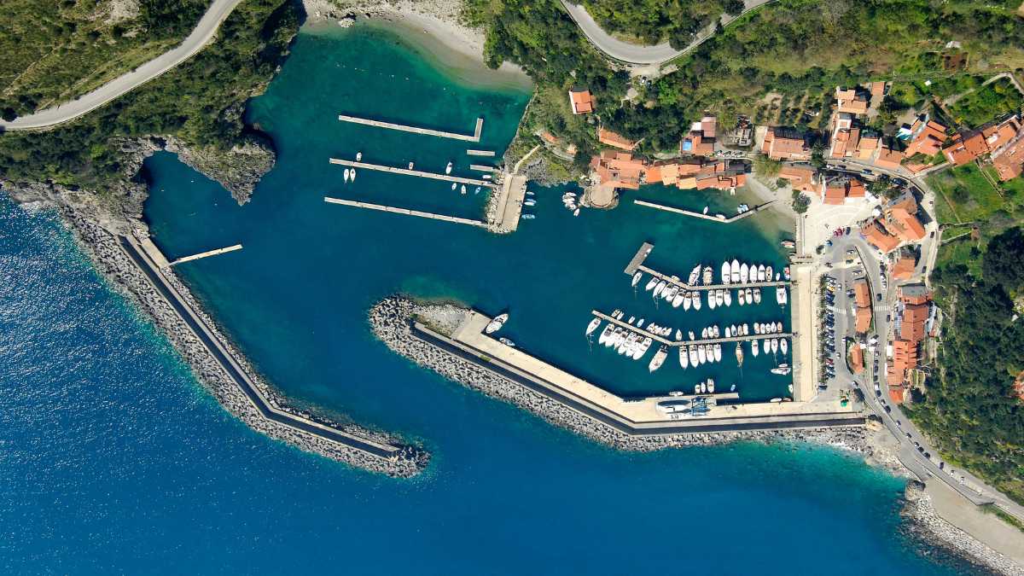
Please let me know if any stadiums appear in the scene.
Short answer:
No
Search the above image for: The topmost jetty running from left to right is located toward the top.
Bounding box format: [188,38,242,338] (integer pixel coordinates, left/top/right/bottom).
[339,115,482,142]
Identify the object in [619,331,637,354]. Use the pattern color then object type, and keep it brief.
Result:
white boat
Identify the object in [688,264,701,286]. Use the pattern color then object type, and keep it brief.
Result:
white boat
